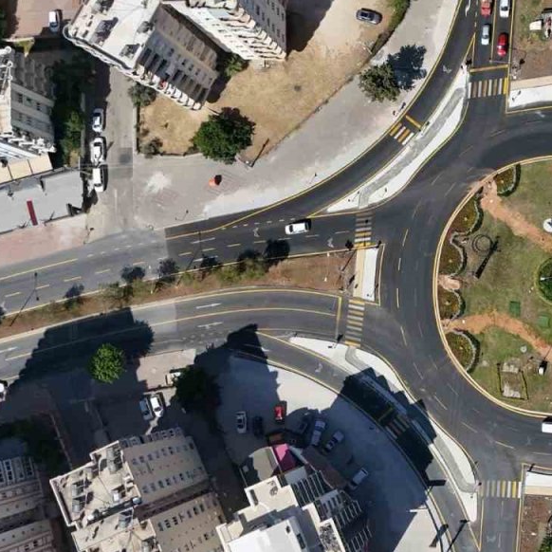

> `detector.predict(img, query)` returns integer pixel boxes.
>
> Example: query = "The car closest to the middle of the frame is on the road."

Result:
[285,220,311,234]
